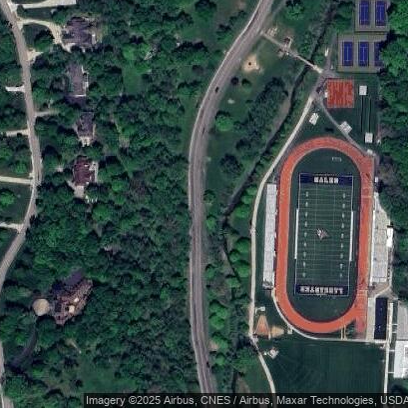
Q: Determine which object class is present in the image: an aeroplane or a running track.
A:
running track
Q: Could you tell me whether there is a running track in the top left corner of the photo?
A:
No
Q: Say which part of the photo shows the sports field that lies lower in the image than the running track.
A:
bottom right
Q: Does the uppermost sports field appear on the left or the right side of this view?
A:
right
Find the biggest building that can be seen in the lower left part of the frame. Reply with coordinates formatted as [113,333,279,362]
[55,275,95,326]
